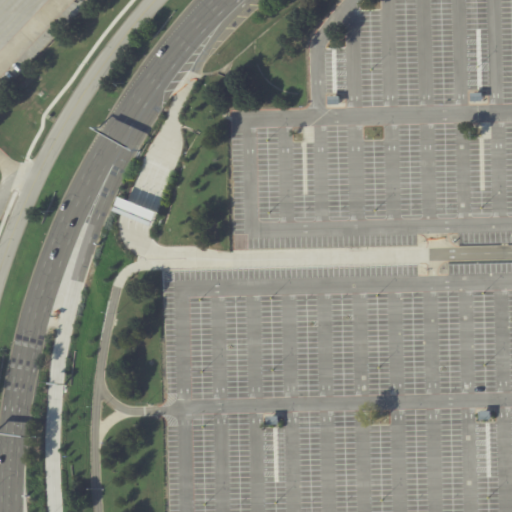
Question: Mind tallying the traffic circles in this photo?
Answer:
0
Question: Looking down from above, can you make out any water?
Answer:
No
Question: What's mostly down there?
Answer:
paved ground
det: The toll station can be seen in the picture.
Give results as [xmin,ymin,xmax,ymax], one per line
[114,192,163,226]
